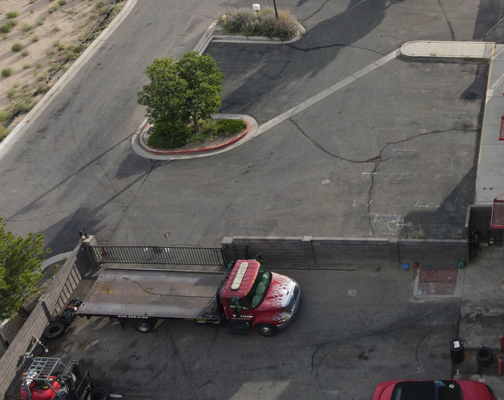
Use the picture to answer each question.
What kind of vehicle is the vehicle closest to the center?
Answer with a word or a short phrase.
truck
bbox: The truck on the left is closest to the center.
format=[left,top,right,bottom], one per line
[77,258,303,337]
